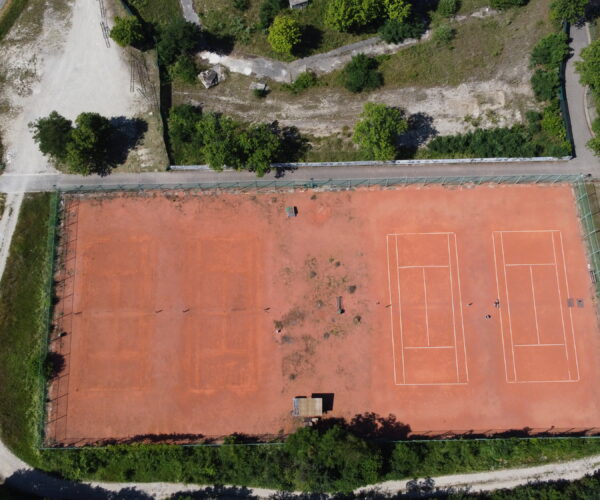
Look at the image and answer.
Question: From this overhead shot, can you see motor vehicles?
No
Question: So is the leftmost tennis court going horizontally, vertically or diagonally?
vertically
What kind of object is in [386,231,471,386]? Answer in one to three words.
tennis court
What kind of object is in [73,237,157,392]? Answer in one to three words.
tennis court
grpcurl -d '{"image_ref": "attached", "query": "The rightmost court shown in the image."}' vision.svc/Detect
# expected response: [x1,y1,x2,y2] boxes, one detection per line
[491,228,581,383]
